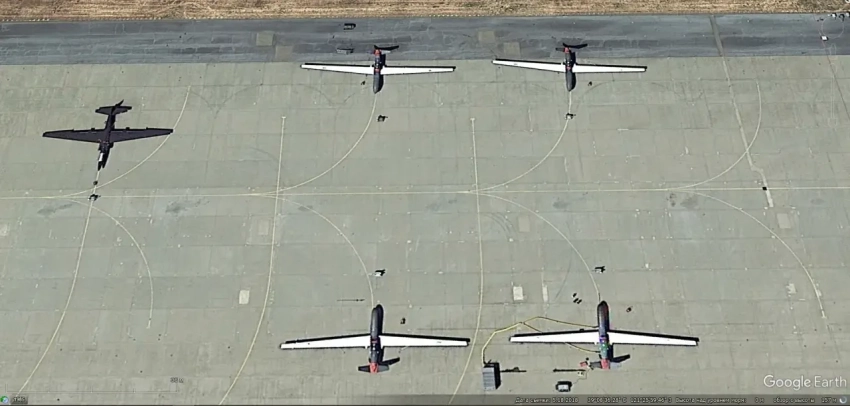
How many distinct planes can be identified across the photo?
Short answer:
5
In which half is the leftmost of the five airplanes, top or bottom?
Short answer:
top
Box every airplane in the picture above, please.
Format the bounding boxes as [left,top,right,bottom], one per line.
[44,98,172,174]
[492,43,647,92]
[300,46,456,95]
[510,304,700,370]
[281,308,471,374]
